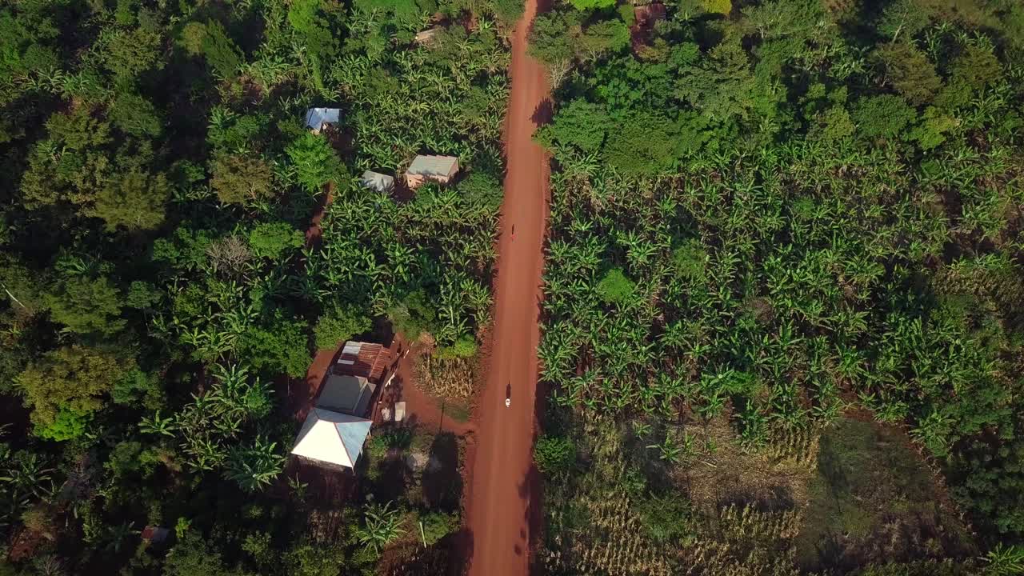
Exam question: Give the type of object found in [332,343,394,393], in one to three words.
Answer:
house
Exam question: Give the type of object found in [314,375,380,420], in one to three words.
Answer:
house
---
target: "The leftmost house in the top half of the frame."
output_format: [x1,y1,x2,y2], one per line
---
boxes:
[306,108,340,136]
